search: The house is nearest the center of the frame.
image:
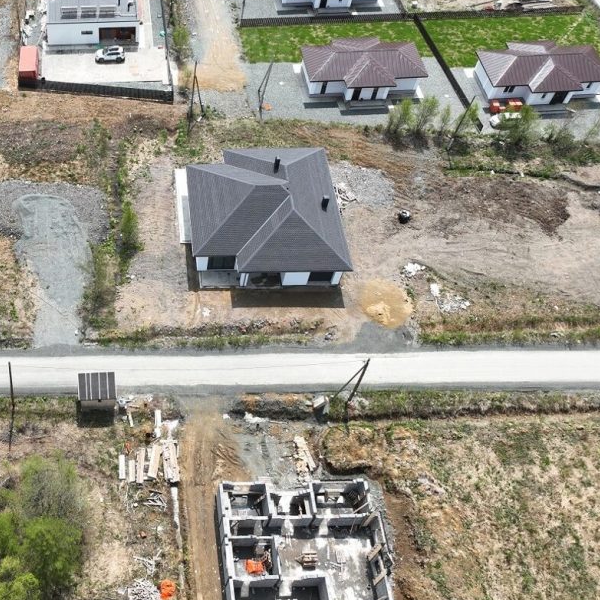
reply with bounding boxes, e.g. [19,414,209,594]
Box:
[178,147,359,290]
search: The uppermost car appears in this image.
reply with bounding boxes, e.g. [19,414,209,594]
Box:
[96,46,124,62]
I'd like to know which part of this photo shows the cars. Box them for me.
[490,113,522,130]
[96,46,124,62]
